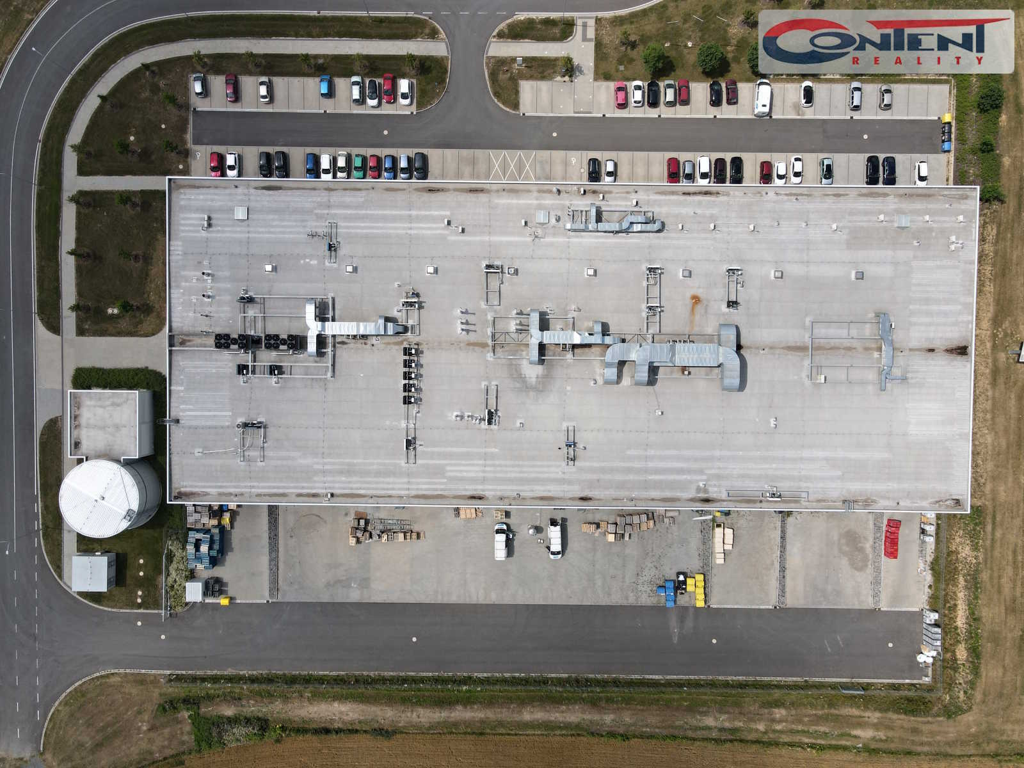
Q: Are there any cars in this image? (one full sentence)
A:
Yes, a car appears in the view.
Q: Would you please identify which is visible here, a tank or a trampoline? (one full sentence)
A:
I can see a tank in this picture.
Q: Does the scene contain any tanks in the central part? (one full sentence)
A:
No, no tank can be made out in the central part.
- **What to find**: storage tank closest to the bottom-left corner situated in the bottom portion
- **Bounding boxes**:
[59,457,162,538]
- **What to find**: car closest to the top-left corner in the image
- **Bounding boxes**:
[192,73,207,98]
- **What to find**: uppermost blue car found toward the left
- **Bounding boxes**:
[319,76,332,99]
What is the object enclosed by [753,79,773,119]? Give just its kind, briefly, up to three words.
vehicle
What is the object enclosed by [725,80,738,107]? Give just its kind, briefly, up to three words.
vehicle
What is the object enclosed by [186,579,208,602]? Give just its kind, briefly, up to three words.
shed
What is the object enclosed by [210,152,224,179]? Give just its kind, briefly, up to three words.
car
